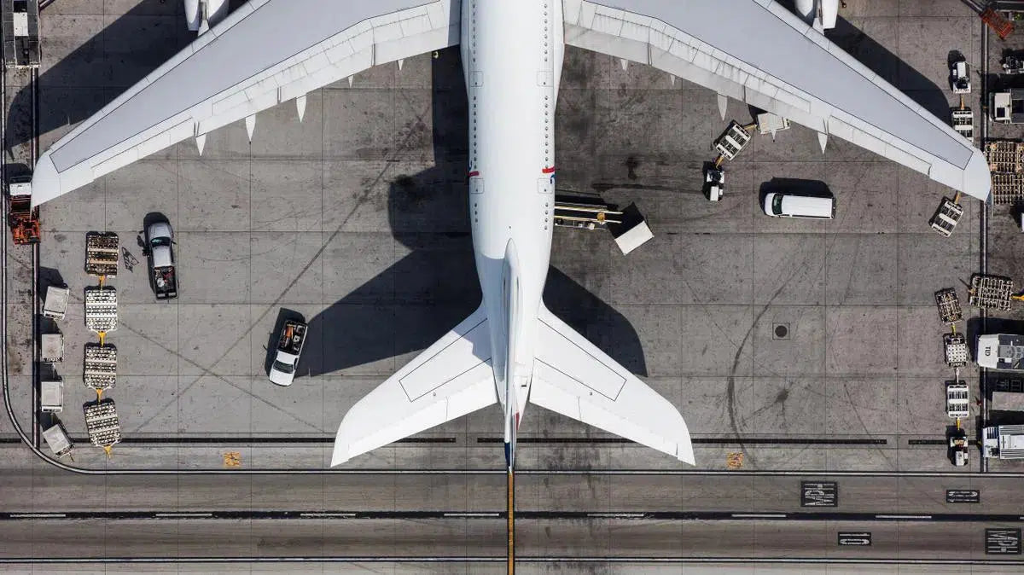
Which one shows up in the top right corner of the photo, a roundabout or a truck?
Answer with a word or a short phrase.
truck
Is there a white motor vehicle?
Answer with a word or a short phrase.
Yes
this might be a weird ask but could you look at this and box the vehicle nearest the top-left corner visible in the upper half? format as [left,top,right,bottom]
[3,0,42,68]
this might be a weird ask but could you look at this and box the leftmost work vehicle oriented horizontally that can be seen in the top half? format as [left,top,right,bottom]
[552,203,624,236]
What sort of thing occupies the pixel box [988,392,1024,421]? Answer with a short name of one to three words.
trailer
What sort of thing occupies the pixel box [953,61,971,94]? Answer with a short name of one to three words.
work vehicle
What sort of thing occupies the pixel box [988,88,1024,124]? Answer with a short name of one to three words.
truck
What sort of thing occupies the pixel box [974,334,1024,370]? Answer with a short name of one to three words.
work vehicle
